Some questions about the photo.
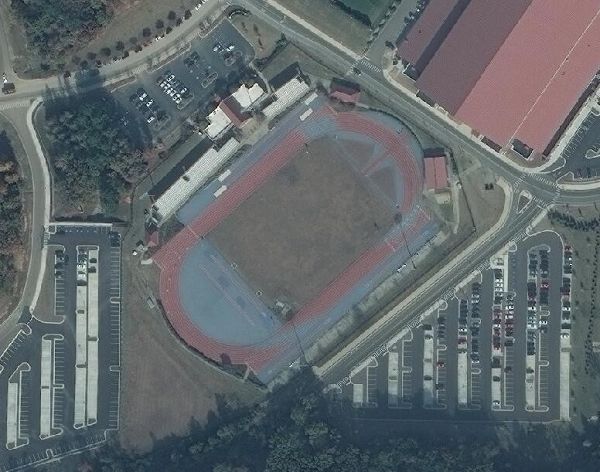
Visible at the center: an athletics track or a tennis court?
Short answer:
athletics track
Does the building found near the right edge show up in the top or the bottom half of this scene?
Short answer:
top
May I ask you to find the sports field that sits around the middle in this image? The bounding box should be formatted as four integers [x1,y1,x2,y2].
[205,136,396,324]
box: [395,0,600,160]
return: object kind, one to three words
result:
building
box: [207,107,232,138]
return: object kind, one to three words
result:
building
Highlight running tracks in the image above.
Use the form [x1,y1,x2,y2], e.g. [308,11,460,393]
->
[152,93,442,381]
